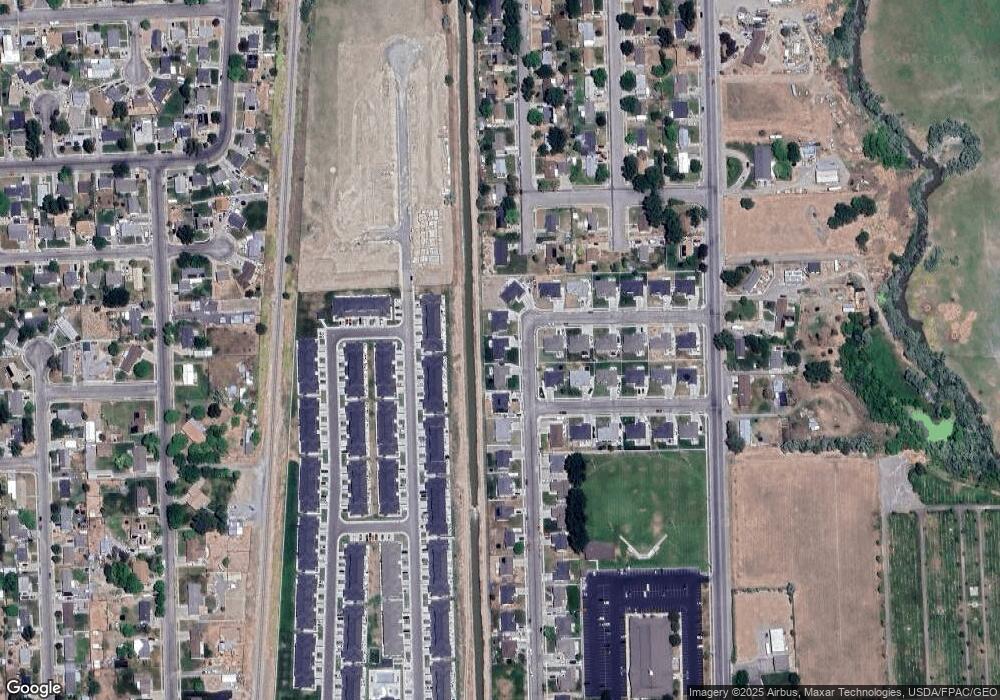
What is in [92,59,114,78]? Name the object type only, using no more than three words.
house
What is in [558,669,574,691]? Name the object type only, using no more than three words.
house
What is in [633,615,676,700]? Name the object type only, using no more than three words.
building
